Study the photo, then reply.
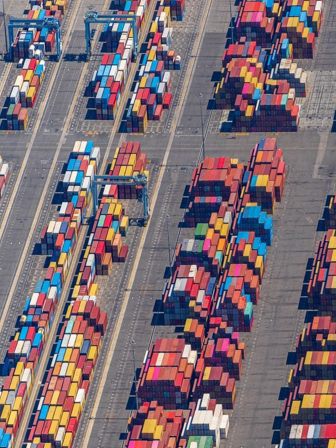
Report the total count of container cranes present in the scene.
3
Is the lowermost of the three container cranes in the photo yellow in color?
No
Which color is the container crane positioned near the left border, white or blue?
blue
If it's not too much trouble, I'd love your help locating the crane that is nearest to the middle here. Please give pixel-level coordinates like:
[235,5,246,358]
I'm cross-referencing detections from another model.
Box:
[88,169,149,225]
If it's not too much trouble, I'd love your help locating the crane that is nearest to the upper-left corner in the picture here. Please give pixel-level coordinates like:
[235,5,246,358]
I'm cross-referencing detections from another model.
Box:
[5,11,62,63]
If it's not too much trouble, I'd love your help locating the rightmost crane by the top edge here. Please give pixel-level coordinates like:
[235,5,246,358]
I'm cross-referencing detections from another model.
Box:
[81,11,138,63]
